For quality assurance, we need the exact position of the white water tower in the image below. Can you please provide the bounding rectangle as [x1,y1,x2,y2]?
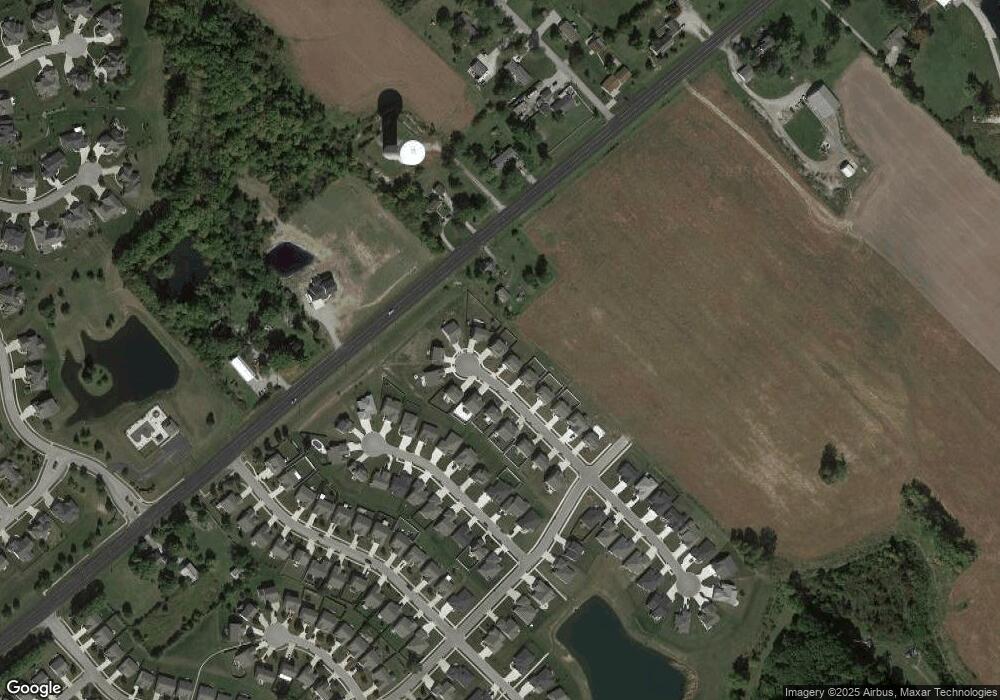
[383,137,425,164]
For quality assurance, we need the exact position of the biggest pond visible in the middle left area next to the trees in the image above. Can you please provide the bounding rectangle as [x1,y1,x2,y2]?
[62,315,179,425]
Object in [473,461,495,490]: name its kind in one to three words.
house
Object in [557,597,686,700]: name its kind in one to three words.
pond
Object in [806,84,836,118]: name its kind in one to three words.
barn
